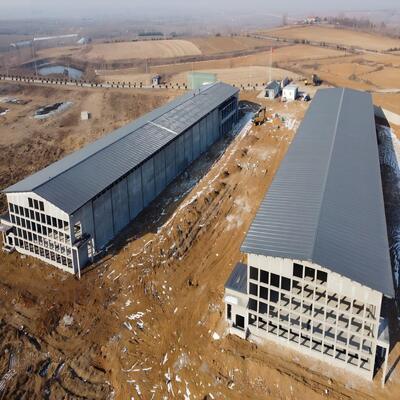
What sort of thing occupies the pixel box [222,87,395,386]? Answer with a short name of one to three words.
barn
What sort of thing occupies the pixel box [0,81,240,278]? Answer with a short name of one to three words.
barn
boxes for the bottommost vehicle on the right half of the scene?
[250,105,268,123]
